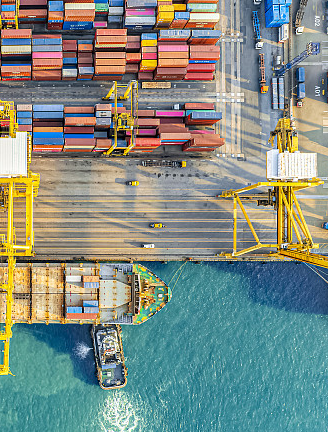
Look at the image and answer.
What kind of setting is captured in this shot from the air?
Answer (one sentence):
The area seen from above is a port.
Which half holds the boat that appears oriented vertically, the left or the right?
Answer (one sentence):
You can find the boat that appears oriented vertically on the left side of the picture.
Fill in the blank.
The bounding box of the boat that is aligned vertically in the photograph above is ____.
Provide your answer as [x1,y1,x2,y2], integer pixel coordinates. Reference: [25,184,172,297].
[93,325,127,391]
